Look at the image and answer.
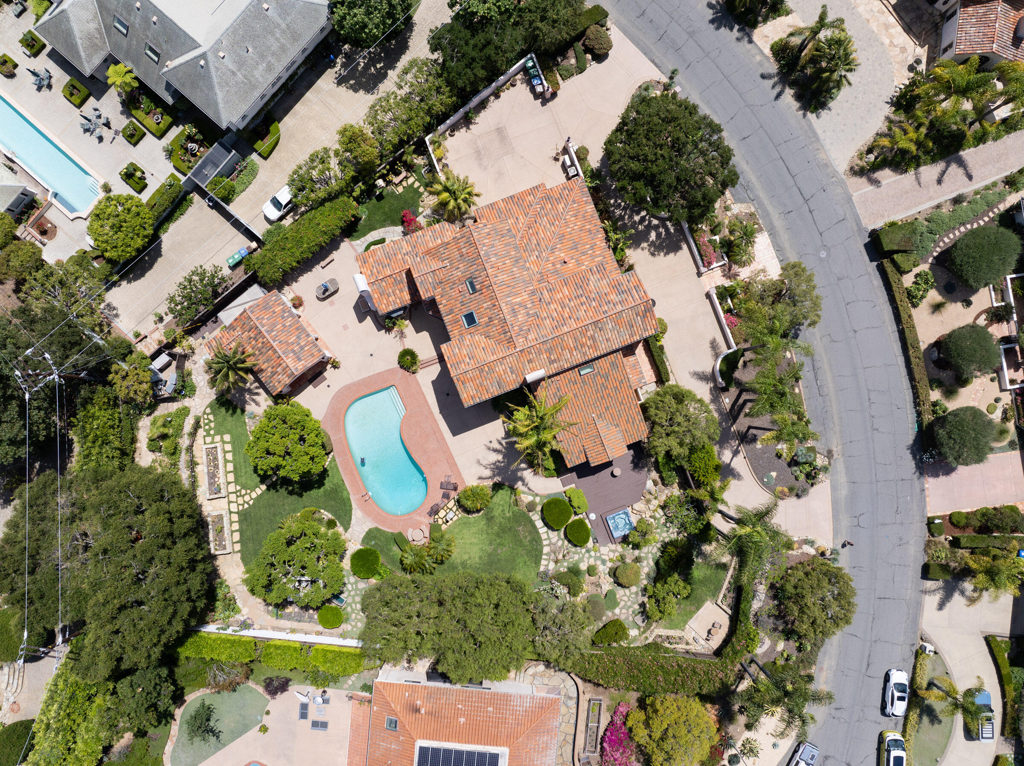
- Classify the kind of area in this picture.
residential area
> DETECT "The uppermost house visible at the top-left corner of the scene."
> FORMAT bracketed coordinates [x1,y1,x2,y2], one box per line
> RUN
[28,0,338,138]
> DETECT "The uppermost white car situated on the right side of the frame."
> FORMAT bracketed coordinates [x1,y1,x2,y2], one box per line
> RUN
[882,669,910,718]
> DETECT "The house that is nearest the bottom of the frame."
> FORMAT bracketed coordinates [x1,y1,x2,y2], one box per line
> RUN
[366,655,562,766]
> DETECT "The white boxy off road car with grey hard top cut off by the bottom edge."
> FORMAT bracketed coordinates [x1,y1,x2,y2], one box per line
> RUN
[784,737,819,766]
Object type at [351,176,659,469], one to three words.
house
